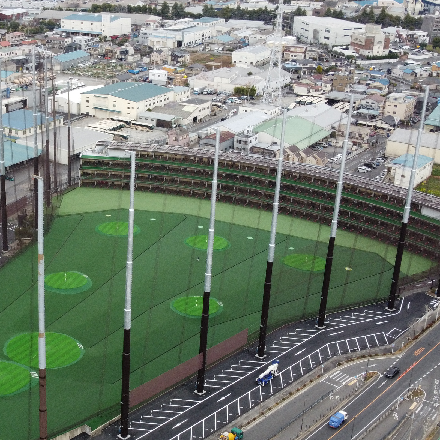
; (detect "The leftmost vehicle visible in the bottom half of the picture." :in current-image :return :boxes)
[222,423,245,440]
